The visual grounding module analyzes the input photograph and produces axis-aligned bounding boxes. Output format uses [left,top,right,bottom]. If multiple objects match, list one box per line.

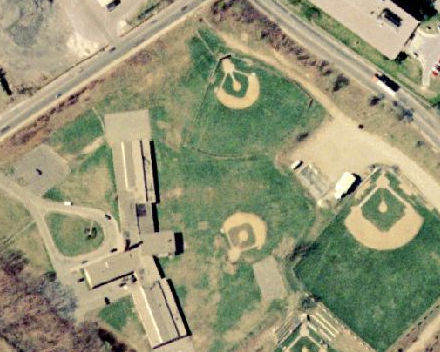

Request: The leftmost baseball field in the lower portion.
[221,211,266,262]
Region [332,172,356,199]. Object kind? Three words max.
shed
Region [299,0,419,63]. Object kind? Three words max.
building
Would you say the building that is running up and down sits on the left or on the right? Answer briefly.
left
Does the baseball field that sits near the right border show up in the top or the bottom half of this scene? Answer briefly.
bottom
